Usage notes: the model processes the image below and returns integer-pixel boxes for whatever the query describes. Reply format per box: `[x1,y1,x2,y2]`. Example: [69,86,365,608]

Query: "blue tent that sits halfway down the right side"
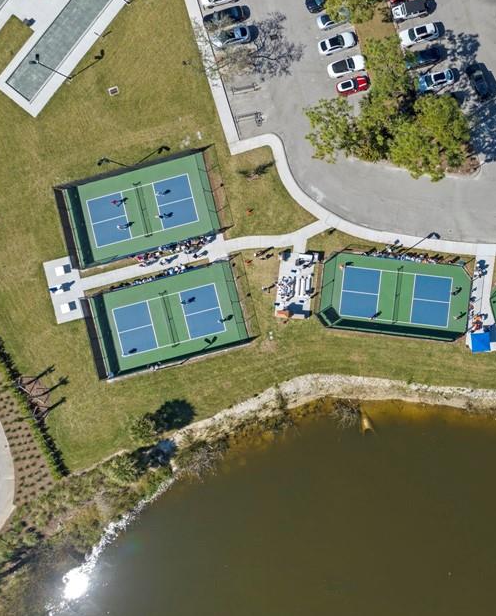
[471,332,491,353]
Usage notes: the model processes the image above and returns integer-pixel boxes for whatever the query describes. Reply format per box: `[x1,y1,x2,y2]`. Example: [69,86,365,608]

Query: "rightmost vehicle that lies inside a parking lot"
[466,60,492,100]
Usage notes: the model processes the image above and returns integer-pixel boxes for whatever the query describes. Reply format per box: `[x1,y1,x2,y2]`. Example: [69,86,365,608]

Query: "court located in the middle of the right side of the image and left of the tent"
[319,251,472,342]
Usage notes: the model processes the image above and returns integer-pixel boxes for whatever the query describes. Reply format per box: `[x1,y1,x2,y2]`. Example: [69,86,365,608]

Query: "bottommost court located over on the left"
[90,259,250,380]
